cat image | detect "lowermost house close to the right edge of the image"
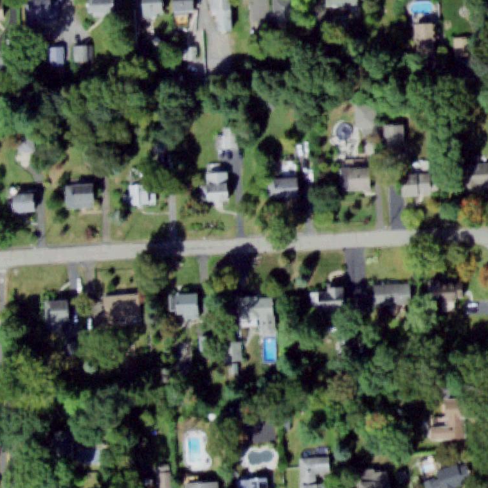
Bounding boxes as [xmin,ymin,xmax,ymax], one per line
[422,468,468,488]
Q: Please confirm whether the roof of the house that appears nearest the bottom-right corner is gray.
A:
Yes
